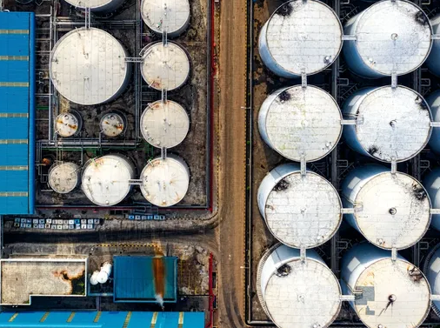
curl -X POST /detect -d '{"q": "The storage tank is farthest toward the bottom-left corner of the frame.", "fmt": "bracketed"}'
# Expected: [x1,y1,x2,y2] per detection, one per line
[48,160,82,194]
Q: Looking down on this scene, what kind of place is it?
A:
industrial area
